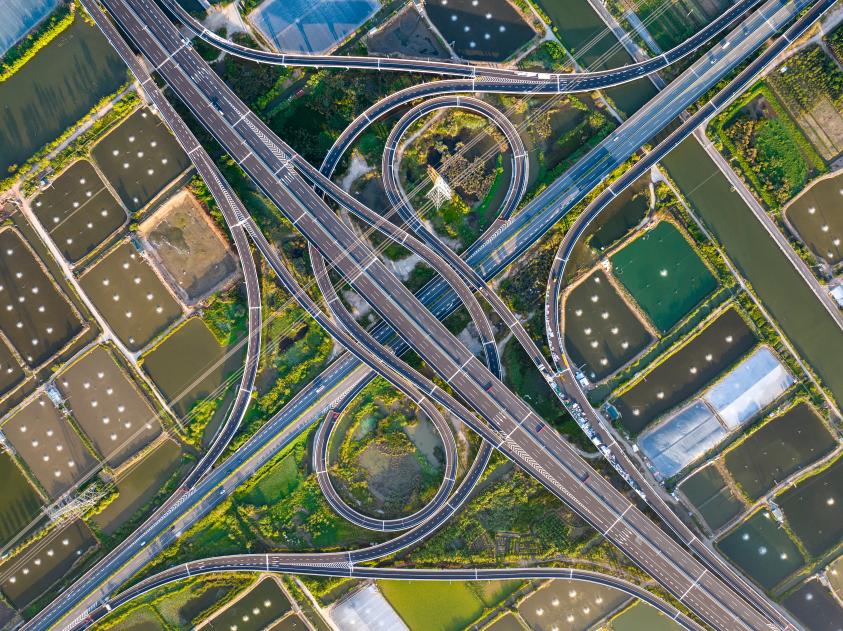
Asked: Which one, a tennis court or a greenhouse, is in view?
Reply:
greenhouse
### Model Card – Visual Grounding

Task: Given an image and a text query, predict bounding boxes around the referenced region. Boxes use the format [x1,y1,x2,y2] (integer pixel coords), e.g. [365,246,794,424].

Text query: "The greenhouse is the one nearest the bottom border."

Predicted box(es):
[329,586,408,631]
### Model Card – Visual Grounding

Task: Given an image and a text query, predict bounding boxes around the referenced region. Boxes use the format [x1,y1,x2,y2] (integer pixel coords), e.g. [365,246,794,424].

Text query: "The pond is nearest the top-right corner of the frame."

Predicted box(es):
[783,171,843,266]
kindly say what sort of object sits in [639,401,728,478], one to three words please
greenhouse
